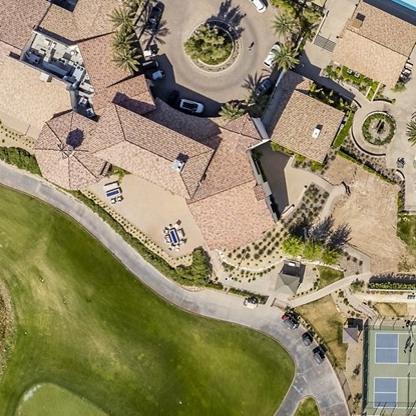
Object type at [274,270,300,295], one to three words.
gazebo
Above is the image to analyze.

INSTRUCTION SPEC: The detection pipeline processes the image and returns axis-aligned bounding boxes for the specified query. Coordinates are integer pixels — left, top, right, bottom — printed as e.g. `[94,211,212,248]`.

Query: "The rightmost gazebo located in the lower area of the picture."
[342,323,358,344]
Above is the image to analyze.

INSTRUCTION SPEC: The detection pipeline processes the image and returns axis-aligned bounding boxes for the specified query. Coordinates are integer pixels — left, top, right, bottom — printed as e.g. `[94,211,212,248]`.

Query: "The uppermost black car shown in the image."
[148,5,163,29]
